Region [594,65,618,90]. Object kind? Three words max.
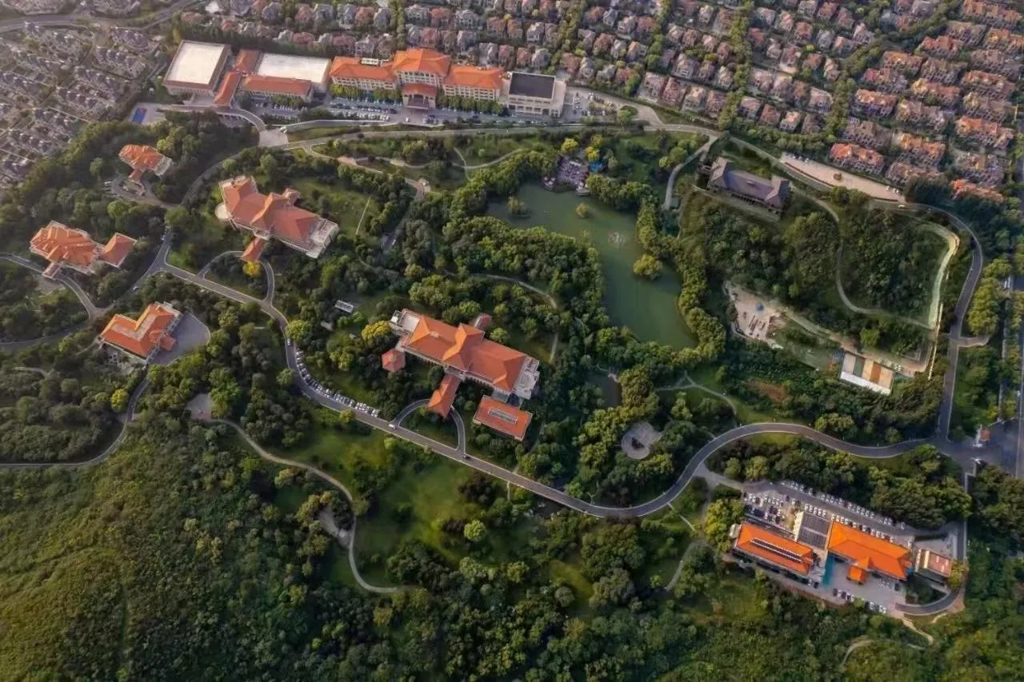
house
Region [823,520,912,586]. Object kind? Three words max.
building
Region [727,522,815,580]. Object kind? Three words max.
building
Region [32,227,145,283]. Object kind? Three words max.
house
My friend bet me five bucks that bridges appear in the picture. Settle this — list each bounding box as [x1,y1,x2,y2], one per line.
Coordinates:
[157,102,265,133]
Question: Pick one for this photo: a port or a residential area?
residential area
